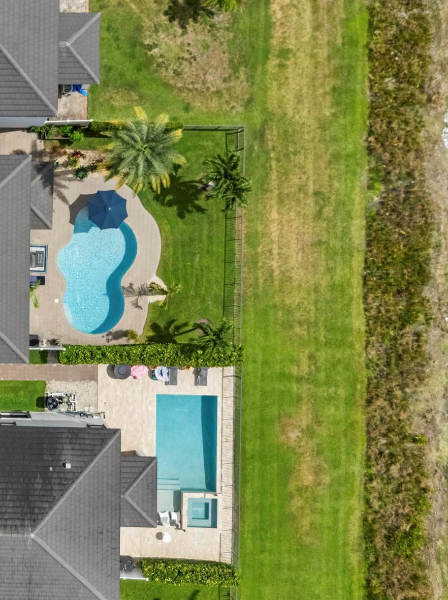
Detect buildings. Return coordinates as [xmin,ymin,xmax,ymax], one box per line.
[0,412,159,600]
[0,0,103,127]
[0,153,55,365]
